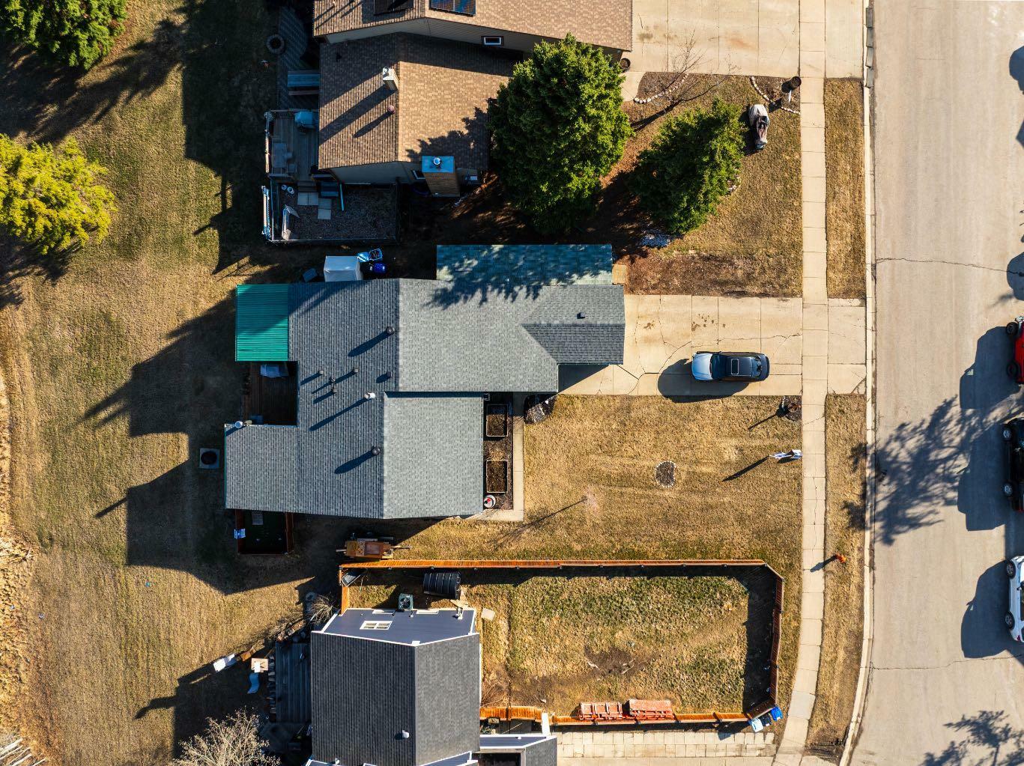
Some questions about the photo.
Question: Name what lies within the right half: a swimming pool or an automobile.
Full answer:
Visible within the right half is an automobile.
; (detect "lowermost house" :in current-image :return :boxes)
[309,606,557,766]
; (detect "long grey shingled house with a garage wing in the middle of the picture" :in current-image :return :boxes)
[223,278,627,520]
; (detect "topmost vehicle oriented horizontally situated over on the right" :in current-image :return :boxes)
[690,349,771,386]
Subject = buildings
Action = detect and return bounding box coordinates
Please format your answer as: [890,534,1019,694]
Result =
[309,606,557,766]
[310,0,634,195]
[223,278,627,520]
